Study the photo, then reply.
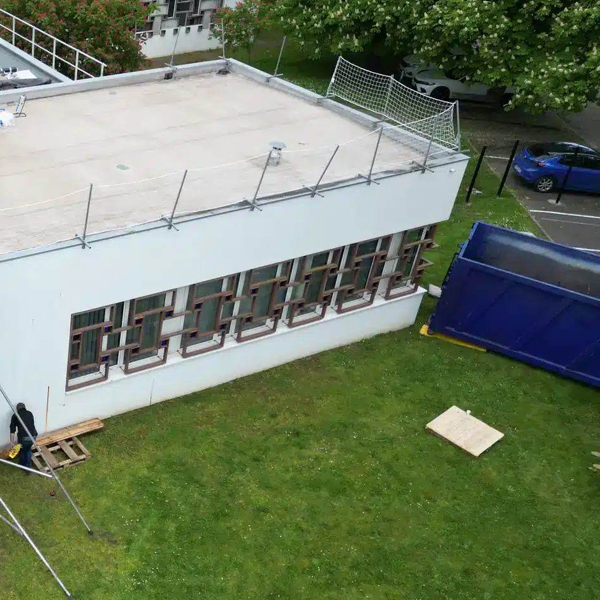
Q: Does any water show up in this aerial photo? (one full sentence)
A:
No, water can't be seen anywhere here.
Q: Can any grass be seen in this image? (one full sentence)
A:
Yes, the picture does contain grass.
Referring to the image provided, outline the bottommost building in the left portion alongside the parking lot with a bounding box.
[0,61,470,448]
